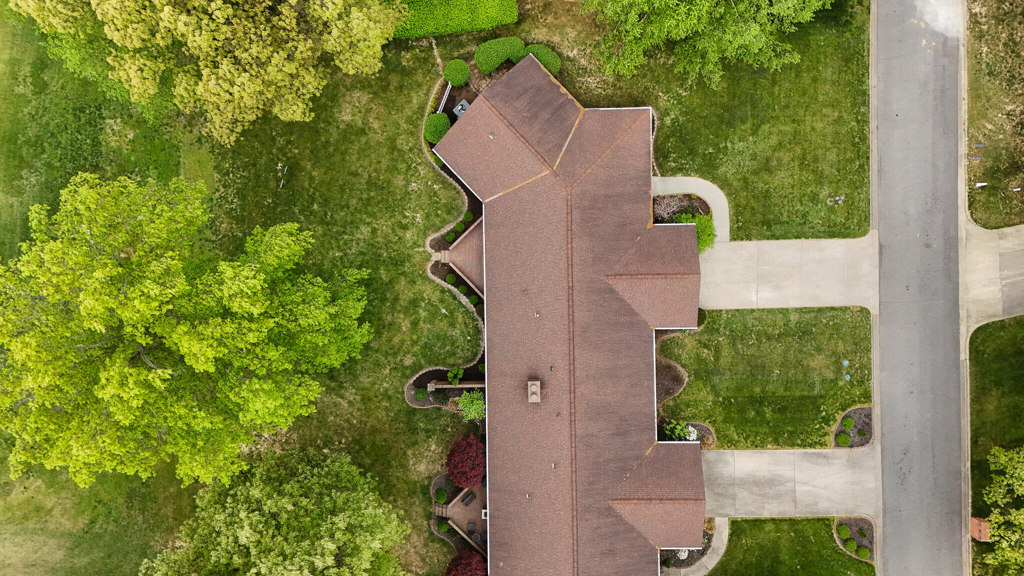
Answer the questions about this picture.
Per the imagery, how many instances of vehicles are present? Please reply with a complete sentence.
Not a single vehicle can be seen.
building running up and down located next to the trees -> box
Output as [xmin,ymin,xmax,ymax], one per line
[431,53,706,576]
